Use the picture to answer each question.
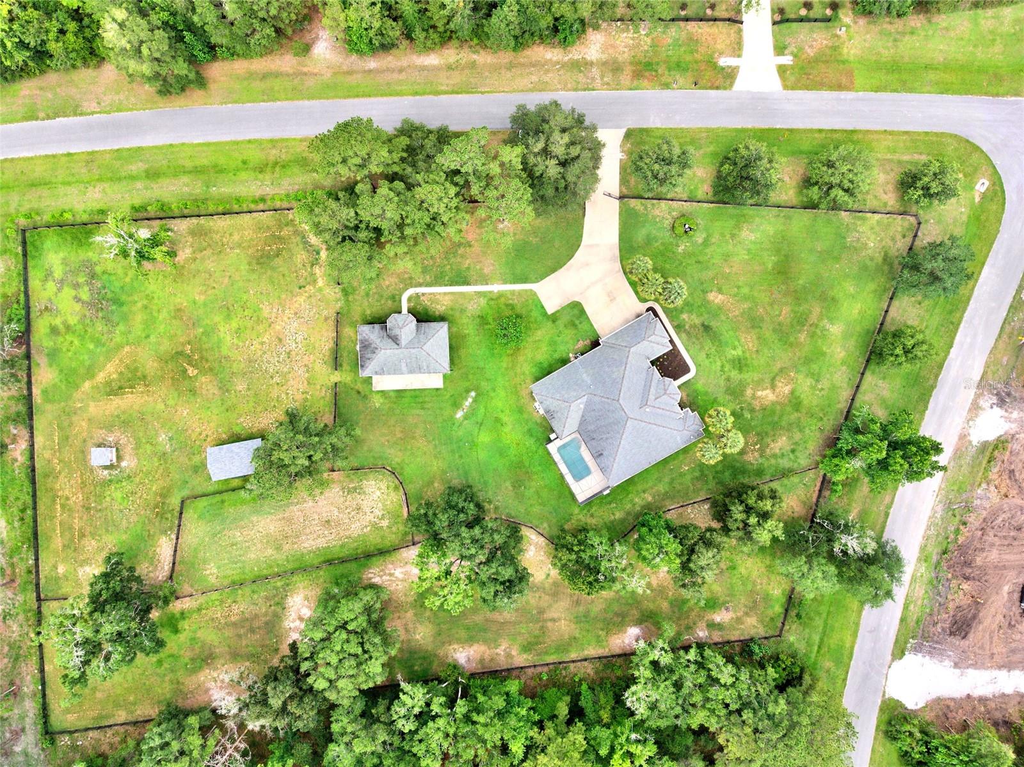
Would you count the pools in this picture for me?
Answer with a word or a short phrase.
one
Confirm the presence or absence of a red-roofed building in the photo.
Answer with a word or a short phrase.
No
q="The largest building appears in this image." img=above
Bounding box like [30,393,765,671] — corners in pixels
[529,311,706,488]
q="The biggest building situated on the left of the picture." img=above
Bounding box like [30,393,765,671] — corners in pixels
[355,313,450,390]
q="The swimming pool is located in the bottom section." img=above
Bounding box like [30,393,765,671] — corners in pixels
[548,431,608,503]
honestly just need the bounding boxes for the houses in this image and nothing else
[355,313,450,390]
[529,311,706,488]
